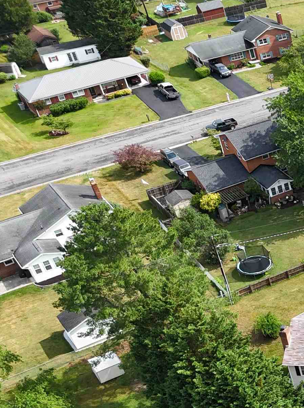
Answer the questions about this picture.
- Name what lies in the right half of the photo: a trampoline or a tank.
trampoline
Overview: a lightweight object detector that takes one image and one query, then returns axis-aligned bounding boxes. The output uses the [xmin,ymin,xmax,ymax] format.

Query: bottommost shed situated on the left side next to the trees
[89,348,126,386]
